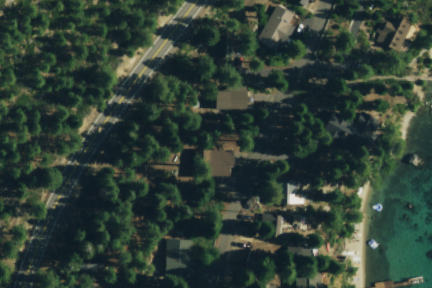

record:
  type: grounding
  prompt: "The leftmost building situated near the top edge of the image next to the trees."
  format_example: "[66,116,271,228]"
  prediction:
[260,5,296,46]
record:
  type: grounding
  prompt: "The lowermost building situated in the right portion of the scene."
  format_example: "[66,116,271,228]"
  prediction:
[294,272,327,287]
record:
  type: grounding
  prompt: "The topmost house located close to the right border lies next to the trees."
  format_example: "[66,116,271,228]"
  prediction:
[374,17,416,50]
